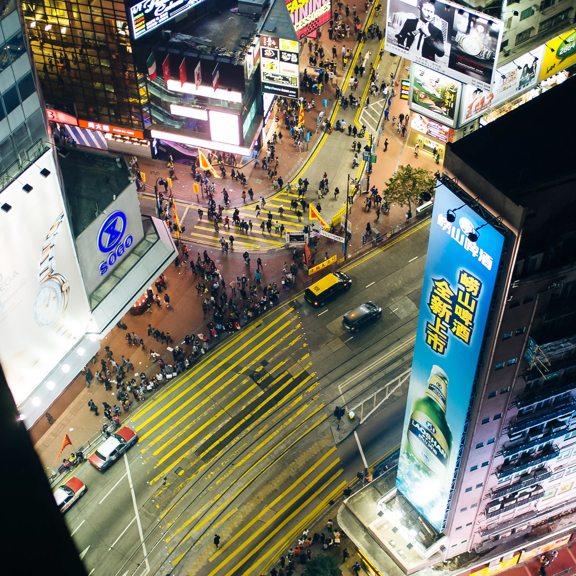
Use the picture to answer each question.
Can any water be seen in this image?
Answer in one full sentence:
No, the scene doesn't show any water.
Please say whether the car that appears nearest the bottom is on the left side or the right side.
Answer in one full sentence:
It is on the left.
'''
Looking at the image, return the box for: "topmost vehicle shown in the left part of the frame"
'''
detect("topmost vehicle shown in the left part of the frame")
[88,427,138,473]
